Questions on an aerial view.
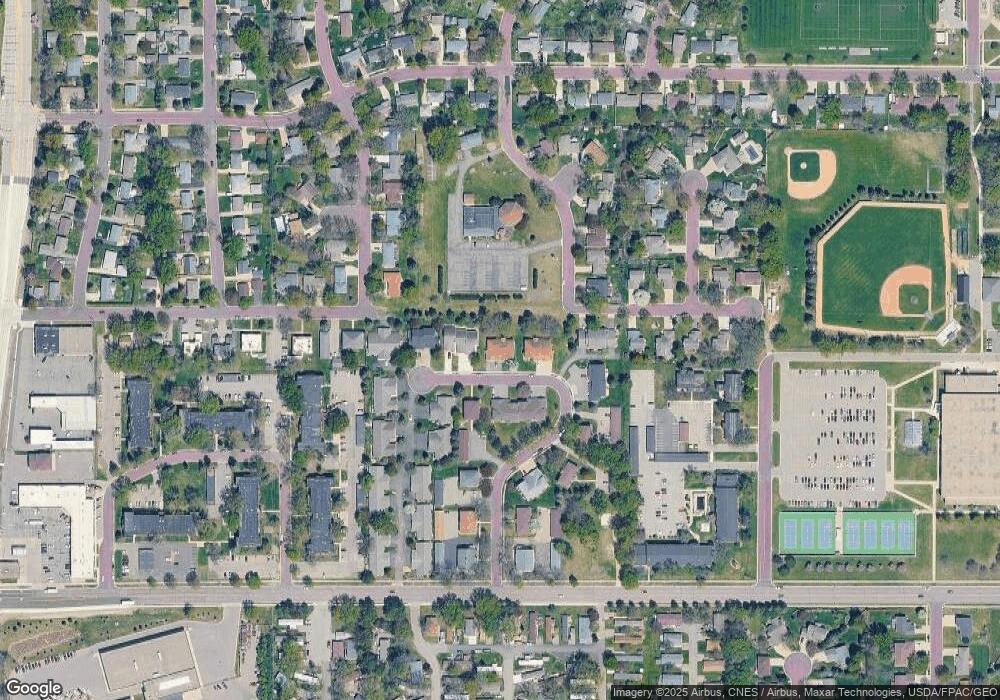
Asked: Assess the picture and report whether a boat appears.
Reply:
No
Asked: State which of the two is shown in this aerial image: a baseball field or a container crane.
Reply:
baseball field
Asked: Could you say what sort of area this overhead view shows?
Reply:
residential area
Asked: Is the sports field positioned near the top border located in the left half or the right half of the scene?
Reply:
right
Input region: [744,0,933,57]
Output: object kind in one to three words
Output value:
sports field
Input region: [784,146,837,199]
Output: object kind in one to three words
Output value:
baseball field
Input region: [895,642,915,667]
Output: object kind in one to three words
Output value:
house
